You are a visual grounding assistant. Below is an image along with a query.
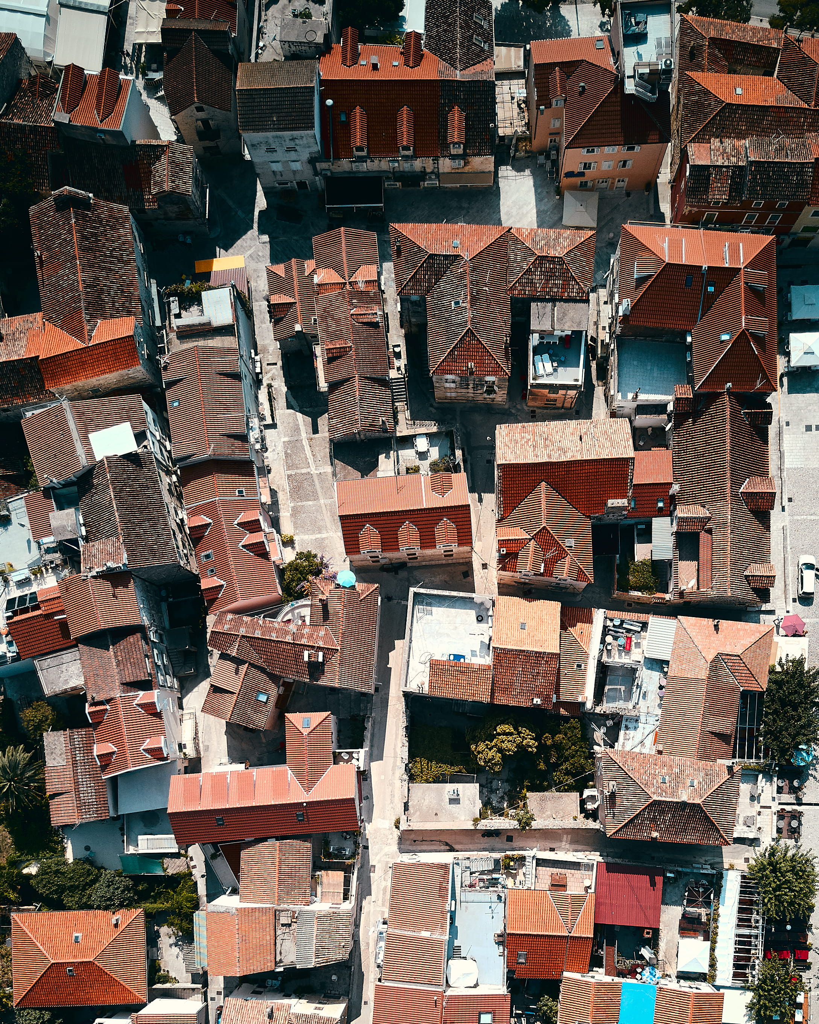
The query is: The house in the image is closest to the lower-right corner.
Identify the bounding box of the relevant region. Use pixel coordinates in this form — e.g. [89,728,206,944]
[654,972,725,1024]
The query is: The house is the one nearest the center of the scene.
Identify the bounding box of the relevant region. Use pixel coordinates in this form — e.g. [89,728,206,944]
[334,472,474,561]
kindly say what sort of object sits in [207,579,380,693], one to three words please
house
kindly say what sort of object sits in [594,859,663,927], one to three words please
building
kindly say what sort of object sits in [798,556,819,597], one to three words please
car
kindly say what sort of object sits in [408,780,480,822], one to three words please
shed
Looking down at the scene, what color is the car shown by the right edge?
white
